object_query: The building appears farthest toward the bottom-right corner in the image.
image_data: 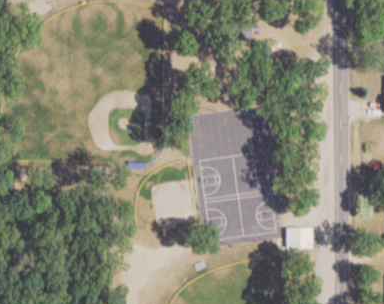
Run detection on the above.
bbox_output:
[286,228,314,250]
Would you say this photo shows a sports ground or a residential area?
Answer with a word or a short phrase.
sports ground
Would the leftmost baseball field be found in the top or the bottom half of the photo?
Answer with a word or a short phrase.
top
